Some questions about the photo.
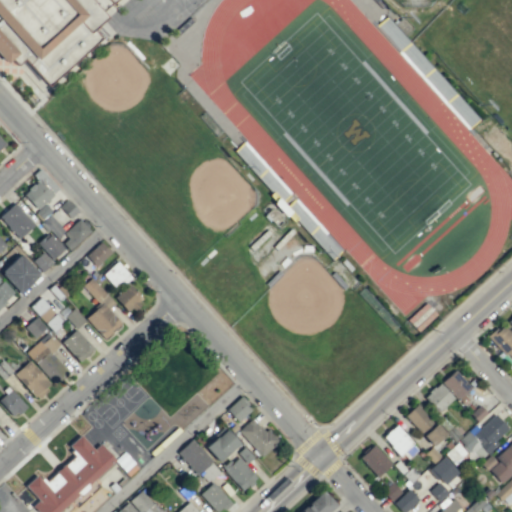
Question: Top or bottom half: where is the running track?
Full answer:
The running track is in the top half of the image.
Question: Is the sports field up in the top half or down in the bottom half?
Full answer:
The sports field is in the top half of the image.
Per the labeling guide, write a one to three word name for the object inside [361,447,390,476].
house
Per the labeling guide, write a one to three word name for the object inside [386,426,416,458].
house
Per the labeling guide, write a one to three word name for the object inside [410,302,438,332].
building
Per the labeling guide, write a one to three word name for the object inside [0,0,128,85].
building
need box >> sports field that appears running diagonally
[226,0,492,276]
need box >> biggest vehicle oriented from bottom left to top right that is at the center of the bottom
[270,478,292,499]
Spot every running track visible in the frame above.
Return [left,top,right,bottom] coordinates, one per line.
[190,0,511,316]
